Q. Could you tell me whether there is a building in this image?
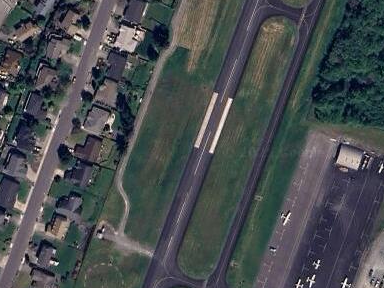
Yes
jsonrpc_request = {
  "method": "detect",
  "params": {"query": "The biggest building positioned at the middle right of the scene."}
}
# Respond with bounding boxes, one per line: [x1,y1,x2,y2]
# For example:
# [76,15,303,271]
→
[336,144,364,171]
